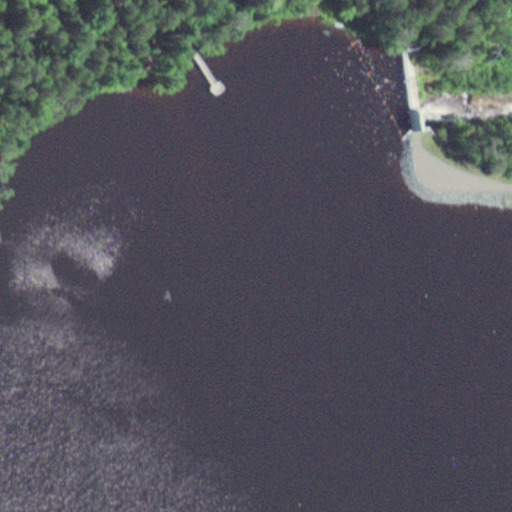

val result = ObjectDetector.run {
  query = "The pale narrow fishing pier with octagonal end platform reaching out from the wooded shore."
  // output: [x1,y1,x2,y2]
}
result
[191,50,224,96]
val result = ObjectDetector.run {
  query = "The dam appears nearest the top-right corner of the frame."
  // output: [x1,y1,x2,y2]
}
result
[402,46,448,140]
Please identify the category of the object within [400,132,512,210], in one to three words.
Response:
dam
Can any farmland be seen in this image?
No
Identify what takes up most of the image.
water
